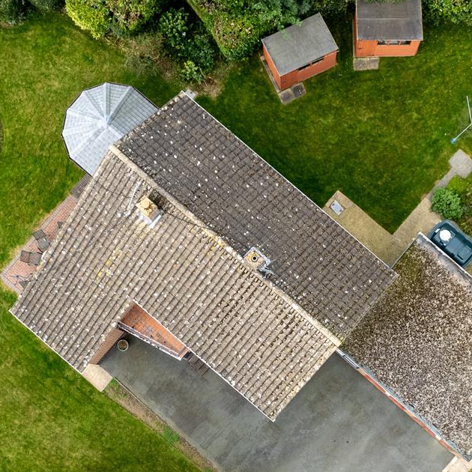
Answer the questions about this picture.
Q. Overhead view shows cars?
No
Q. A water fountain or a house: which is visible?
house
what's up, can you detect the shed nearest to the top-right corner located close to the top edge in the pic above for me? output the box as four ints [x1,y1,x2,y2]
[355,0,422,57]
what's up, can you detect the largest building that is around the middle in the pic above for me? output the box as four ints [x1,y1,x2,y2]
[5,88,396,417]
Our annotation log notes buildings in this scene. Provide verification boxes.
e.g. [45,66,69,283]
[262,12,338,90]
[5,88,396,417]
[355,0,422,57]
